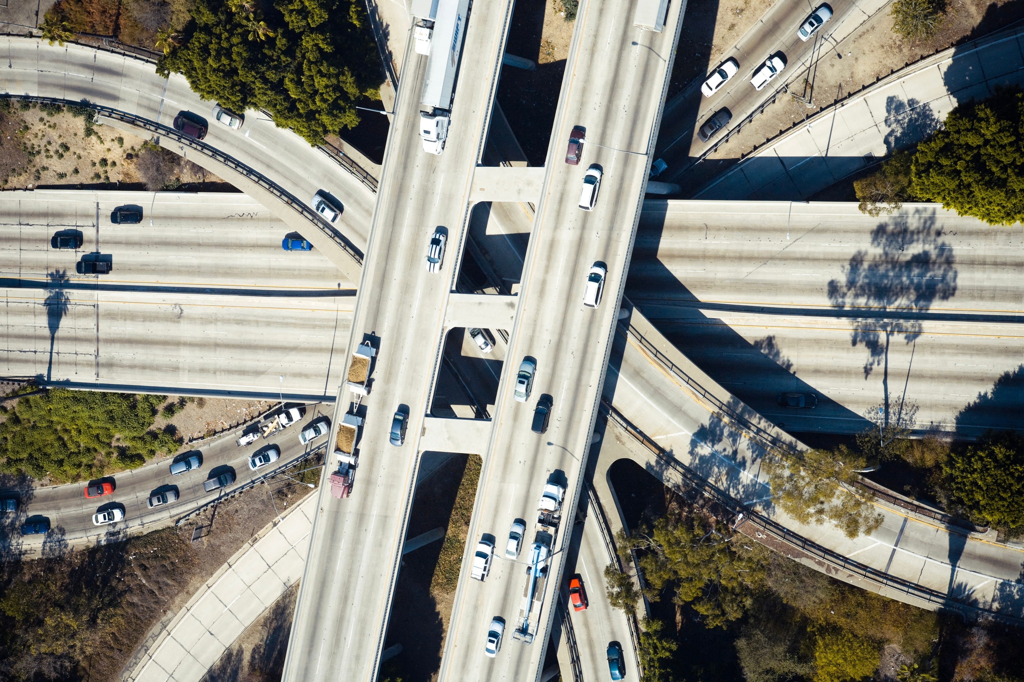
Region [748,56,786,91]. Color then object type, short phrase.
white truck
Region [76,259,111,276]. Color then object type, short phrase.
black vehicle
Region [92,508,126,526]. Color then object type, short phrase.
white car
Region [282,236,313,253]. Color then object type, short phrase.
blue car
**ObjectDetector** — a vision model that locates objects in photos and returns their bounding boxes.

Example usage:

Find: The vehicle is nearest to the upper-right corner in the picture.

[796,5,834,42]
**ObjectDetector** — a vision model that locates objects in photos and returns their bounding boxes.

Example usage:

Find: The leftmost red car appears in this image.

[84,482,116,499]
